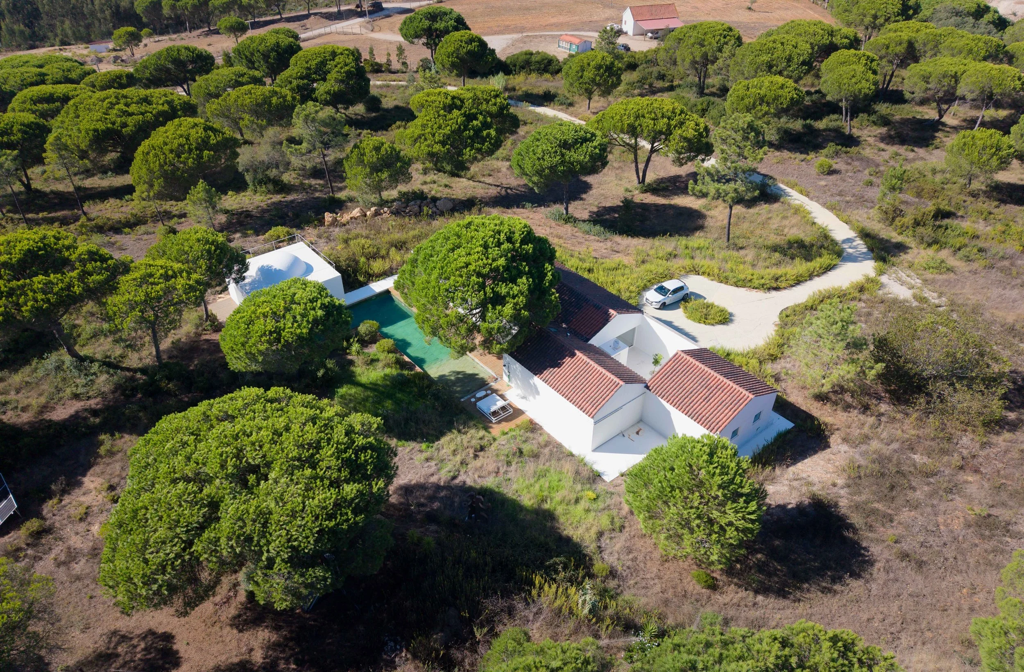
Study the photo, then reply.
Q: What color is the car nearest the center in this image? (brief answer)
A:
white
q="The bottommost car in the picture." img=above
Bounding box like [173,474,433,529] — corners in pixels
[644,278,692,308]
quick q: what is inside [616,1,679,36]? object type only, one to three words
house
